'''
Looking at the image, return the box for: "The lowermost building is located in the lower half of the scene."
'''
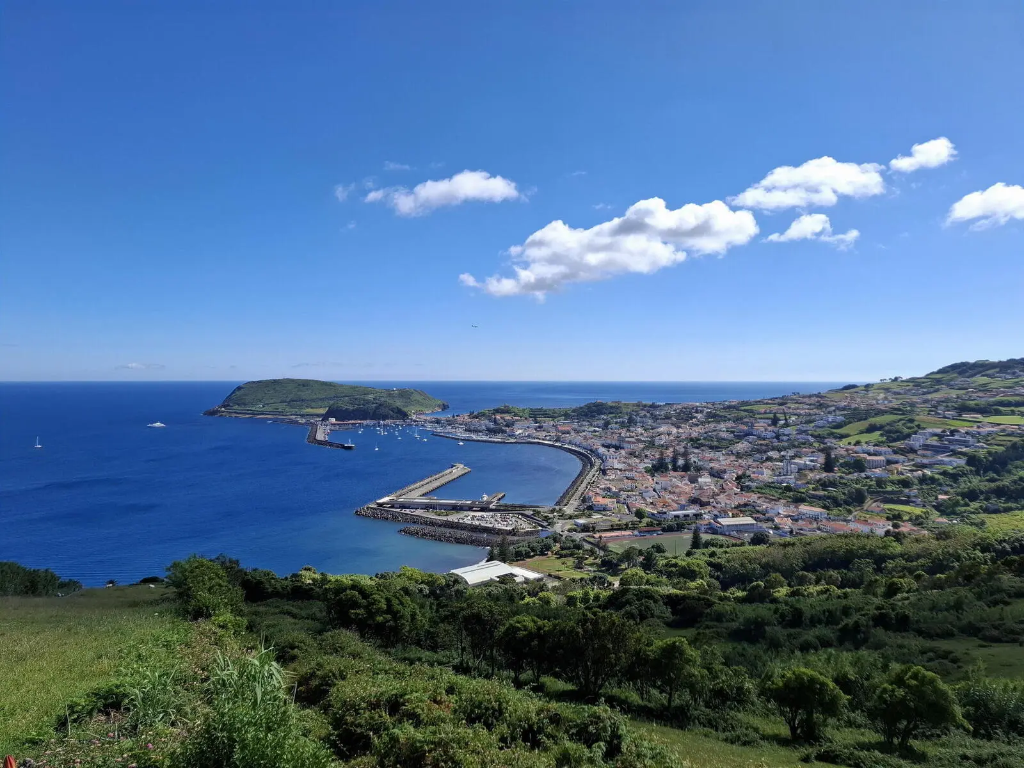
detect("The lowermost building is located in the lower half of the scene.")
[443,560,552,586]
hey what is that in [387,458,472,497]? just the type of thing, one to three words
pier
